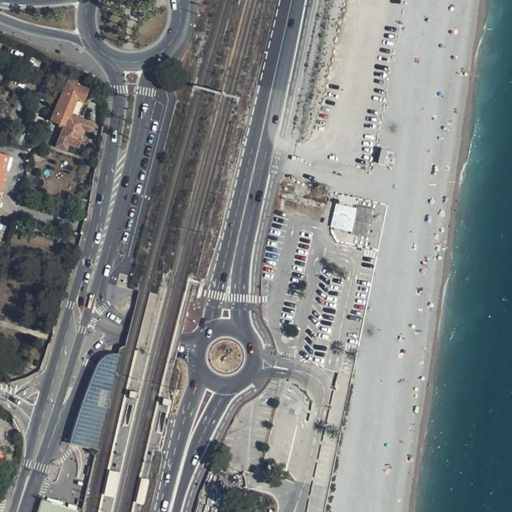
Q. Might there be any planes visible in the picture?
No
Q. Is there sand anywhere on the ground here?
Yes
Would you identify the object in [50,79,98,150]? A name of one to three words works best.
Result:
house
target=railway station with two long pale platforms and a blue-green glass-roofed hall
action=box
[70,270,204,512]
